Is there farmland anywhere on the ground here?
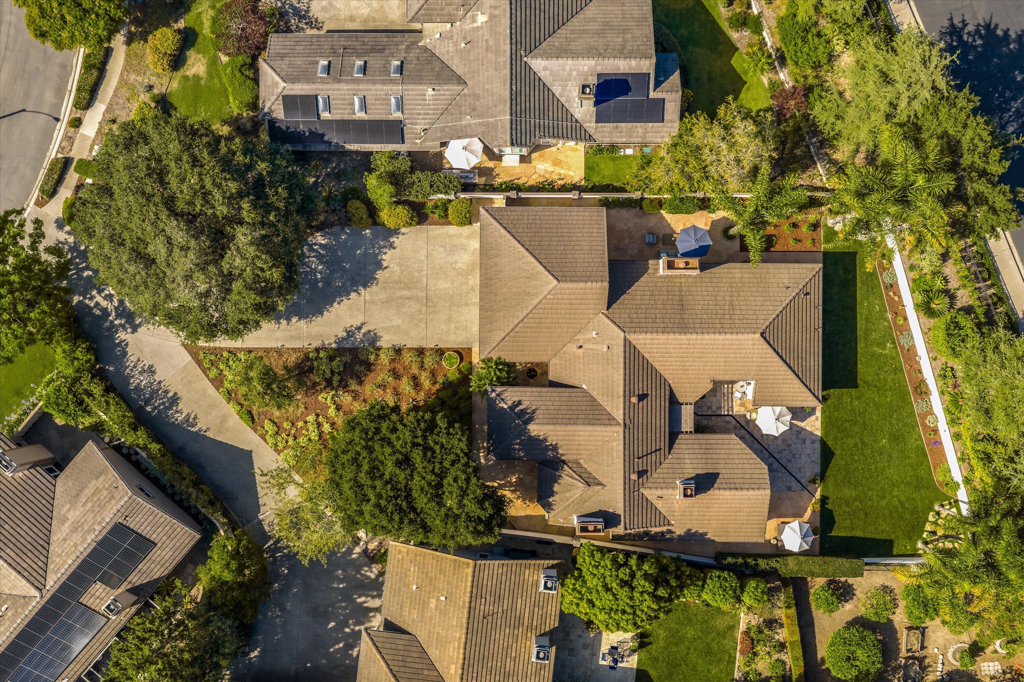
No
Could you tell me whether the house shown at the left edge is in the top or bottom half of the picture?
bottom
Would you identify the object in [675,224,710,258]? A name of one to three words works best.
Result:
umbrella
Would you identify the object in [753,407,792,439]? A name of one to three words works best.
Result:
umbrella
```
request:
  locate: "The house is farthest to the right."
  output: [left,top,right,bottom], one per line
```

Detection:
[478,206,824,544]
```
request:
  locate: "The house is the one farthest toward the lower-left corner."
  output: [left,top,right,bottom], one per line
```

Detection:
[0,410,207,682]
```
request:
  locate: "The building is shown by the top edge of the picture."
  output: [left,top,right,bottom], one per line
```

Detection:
[258,0,683,164]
